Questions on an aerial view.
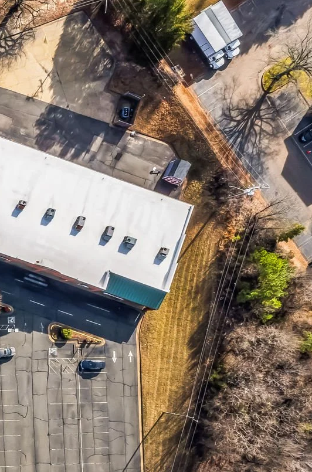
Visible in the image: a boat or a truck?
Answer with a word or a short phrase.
truck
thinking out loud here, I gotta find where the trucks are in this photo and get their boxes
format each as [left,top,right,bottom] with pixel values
[184,12,226,73]
[199,0,243,61]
